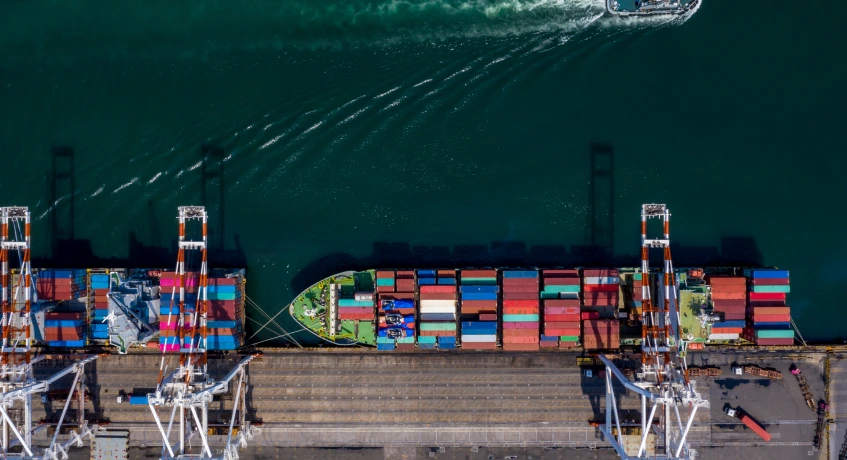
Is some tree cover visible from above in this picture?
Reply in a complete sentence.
No, there is no tree cover in the image.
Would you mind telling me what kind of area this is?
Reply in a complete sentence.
It's a port.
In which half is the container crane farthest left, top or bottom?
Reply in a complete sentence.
Seen from above, the container crane farthest left lies in the bottom half of the view.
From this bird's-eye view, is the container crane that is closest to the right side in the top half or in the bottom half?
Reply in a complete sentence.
The bottom half of the photo is where the container crane that is closest to the right side is.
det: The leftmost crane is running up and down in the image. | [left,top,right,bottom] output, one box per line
[0,204,112,460]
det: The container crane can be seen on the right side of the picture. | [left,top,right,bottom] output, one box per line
[586,204,711,460]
